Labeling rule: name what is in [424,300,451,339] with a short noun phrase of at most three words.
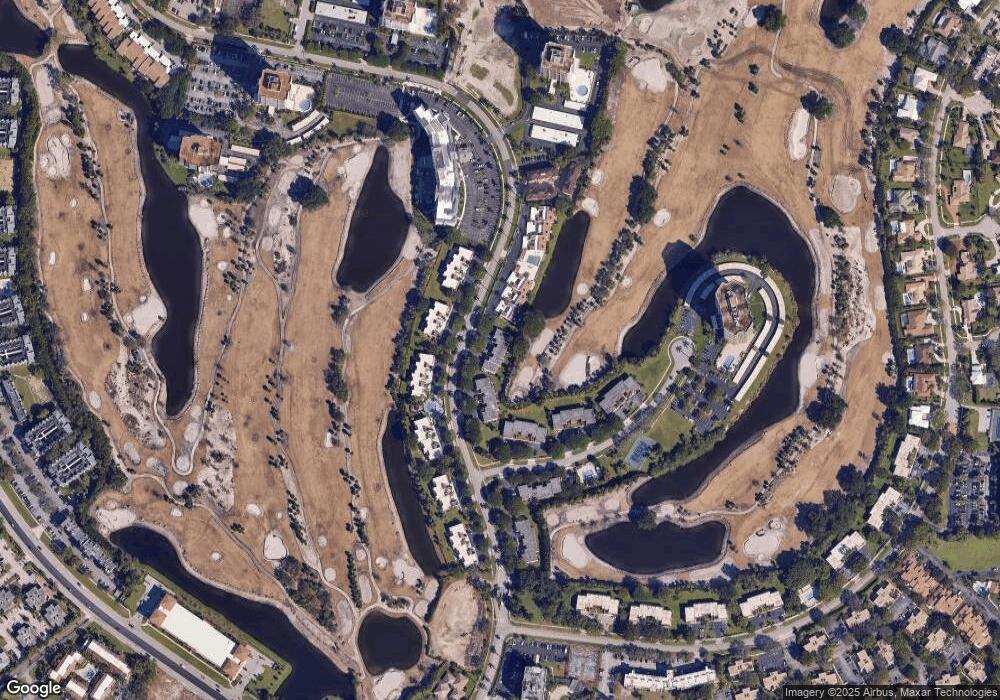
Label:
building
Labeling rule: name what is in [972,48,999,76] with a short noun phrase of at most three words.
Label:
house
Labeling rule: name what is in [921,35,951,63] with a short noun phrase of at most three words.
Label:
house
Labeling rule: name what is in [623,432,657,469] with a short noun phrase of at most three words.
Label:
tennis court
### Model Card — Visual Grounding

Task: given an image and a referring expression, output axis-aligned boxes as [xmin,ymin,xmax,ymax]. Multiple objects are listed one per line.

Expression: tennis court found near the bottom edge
[569,644,601,679]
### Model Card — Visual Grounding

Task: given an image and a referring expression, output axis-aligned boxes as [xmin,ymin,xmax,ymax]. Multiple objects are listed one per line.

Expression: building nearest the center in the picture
[481,330,509,375]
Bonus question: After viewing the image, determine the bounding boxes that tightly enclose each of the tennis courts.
[569,644,601,679]
[623,432,657,469]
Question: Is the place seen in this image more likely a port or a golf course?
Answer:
golf course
